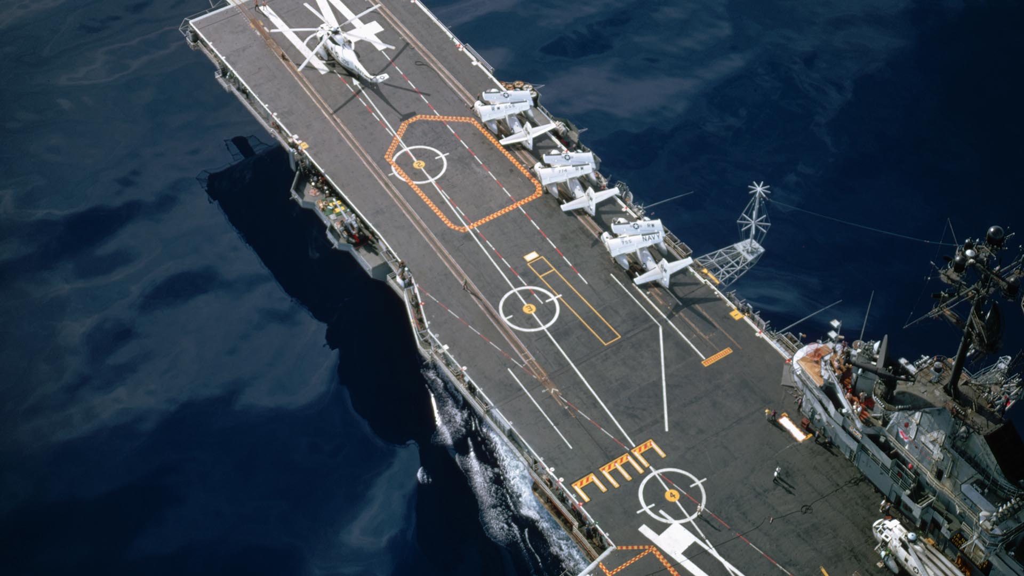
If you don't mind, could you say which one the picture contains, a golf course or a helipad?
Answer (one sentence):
The one in the frame is a helipad.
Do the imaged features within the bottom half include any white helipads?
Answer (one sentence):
Yes, the scene does show a white helipad within the bottom half.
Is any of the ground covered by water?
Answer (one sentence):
Yes, there is water in the image.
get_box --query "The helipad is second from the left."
[499,286,562,331]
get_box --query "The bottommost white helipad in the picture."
[637,468,707,524]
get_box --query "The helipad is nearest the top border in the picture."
[388,146,450,184]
